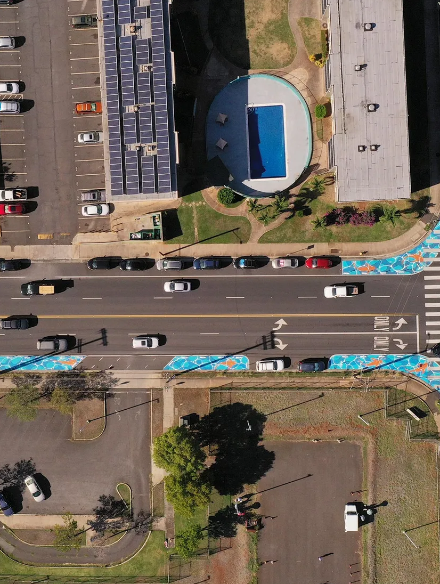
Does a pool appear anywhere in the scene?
Yes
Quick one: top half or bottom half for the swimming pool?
top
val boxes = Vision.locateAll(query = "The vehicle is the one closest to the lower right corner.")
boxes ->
[345,503,359,534]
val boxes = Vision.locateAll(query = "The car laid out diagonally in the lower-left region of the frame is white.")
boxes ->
[23,474,46,503]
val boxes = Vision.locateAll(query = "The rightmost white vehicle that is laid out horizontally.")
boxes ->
[324,285,357,297]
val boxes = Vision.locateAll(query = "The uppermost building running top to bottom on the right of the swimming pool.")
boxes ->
[321,0,411,202]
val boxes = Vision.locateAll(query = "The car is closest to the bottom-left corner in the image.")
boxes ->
[0,488,16,518]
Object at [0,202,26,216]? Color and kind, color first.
red vehicle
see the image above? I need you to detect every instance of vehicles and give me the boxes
[0,488,16,518]
[0,190,28,201]
[75,100,102,114]
[0,101,20,114]
[345,503,359,534]
[72,16,99,28]
[0,83,20,95]
[23,474,46,503]
[0,317,30,328]
[164,280,191,292]
[0,38,16,49]
[0,202,26,216]
[119,258,146,271]
[233,256,259,269]
[257,359,284,373]
[305,257,332,267]
[0,0,15,5]
[131,337,159,350]
[273,257,298,269]
[193,257,219,270]
[156,258,183,271]
[324,285,357,297]
[81,204,110,216]
[297,359,325,372]
[78,131,103,144]
[37,337,68,350]
[87,258,113,270]
[0,260,22,271]
[81,192,105,202]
